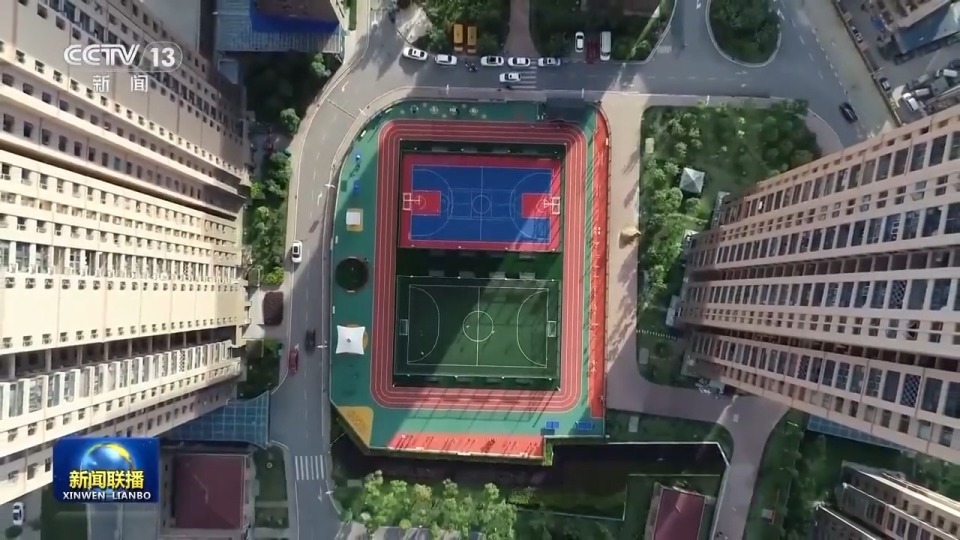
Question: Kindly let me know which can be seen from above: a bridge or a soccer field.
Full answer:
I can see a soccer field in this picture.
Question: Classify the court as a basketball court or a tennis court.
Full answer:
I'd say the court is a basketball court.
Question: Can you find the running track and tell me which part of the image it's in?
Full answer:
Look in the center portion of the view to spot the running track.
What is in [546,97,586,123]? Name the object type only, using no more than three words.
building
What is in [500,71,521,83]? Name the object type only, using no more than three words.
vehicle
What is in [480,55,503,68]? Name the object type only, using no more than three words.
vehicle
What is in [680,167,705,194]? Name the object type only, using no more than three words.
gazebo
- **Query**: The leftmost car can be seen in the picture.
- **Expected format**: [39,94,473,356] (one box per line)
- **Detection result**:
[11,501,25,524]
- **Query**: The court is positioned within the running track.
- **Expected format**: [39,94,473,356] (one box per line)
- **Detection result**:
[399,152,562,251]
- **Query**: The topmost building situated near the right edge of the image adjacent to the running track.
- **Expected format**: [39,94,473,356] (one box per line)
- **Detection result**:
[684,105,960,472]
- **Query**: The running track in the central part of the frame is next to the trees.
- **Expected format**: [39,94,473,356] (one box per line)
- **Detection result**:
[371,121,585,412]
